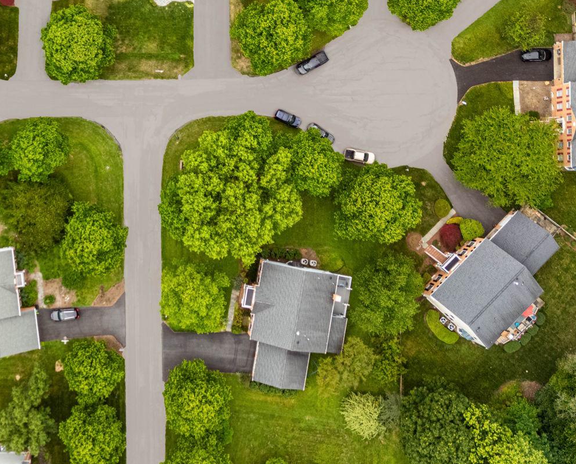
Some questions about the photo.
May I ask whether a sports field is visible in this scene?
No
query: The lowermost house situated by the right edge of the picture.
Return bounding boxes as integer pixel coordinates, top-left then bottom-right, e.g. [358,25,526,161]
[422,211,557,350]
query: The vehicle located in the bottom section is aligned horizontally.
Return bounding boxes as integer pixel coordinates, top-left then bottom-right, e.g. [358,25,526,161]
[50,309,78,322]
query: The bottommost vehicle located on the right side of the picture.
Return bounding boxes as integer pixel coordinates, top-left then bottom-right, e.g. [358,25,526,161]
[344,149,377,163]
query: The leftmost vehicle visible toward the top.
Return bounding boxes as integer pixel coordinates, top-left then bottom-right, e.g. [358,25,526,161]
[273,108,302,127]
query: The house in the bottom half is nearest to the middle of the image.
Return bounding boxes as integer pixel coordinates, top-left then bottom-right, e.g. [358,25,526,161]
[238,260,354,388]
